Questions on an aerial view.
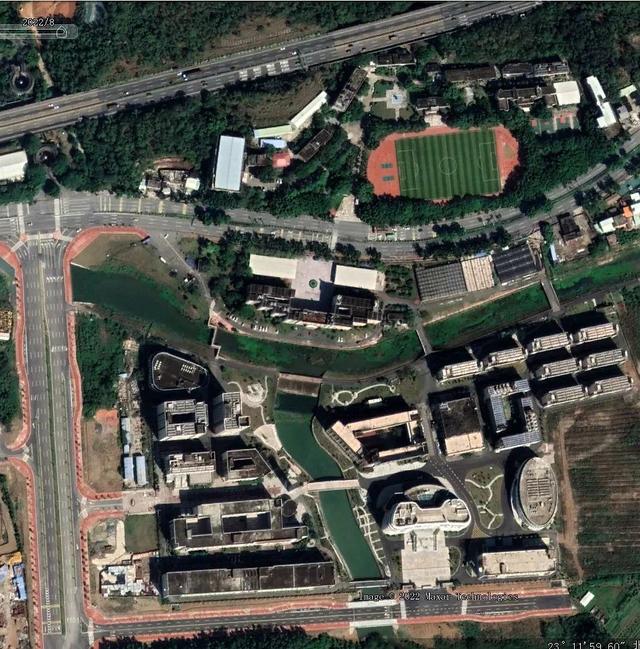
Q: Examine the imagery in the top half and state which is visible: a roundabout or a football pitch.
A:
football pitch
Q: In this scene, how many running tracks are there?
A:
1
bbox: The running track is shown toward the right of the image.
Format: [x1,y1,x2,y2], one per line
[367,125,519,202]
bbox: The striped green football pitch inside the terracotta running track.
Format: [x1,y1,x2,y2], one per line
[395,131,500,195]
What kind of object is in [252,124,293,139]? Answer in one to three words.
shed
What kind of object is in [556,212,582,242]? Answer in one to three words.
house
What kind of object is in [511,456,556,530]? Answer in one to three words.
building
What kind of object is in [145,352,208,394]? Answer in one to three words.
building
